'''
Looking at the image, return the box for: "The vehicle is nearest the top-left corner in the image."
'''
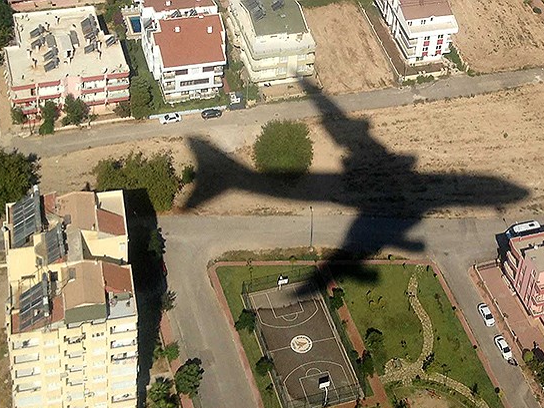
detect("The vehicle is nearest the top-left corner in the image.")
[158,111,184,125]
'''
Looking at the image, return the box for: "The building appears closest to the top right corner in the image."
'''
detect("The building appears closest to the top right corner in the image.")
[378,0,462,64]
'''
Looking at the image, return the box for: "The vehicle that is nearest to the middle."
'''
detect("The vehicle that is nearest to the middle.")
[199,108,225,121]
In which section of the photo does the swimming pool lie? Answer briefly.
top left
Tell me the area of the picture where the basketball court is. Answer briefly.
bottom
